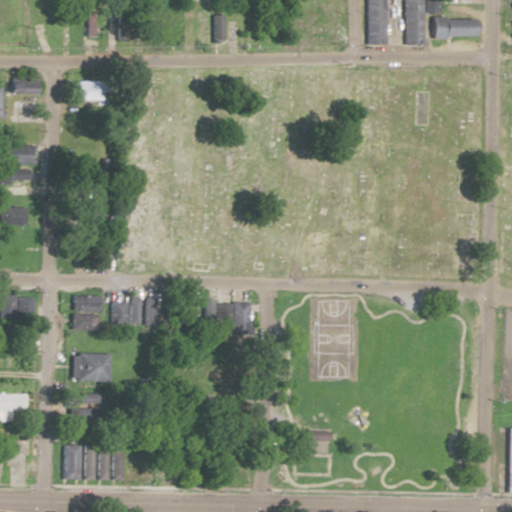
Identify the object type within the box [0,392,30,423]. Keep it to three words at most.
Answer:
building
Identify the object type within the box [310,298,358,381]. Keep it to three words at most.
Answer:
basketball court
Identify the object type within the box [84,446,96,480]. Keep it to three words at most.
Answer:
house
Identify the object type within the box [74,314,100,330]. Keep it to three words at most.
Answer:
house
